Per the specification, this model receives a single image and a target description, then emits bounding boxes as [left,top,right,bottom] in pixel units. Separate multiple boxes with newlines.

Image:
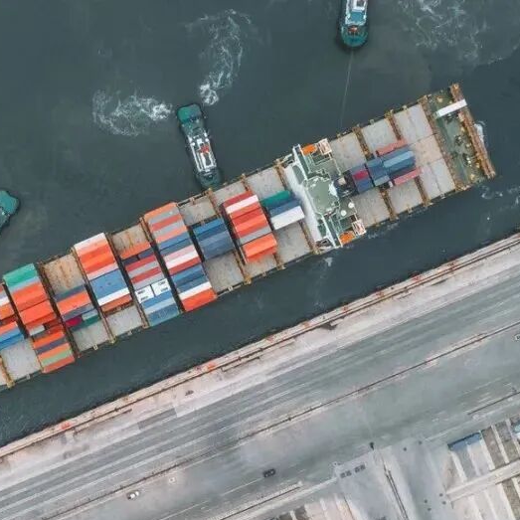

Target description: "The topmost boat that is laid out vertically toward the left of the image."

[179,104,220,186]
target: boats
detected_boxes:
[302,142,319,154]
[179,104,220,186]
[340,229,356,241]
[0,191,21,237]
[339,0,372,46]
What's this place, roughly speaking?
port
